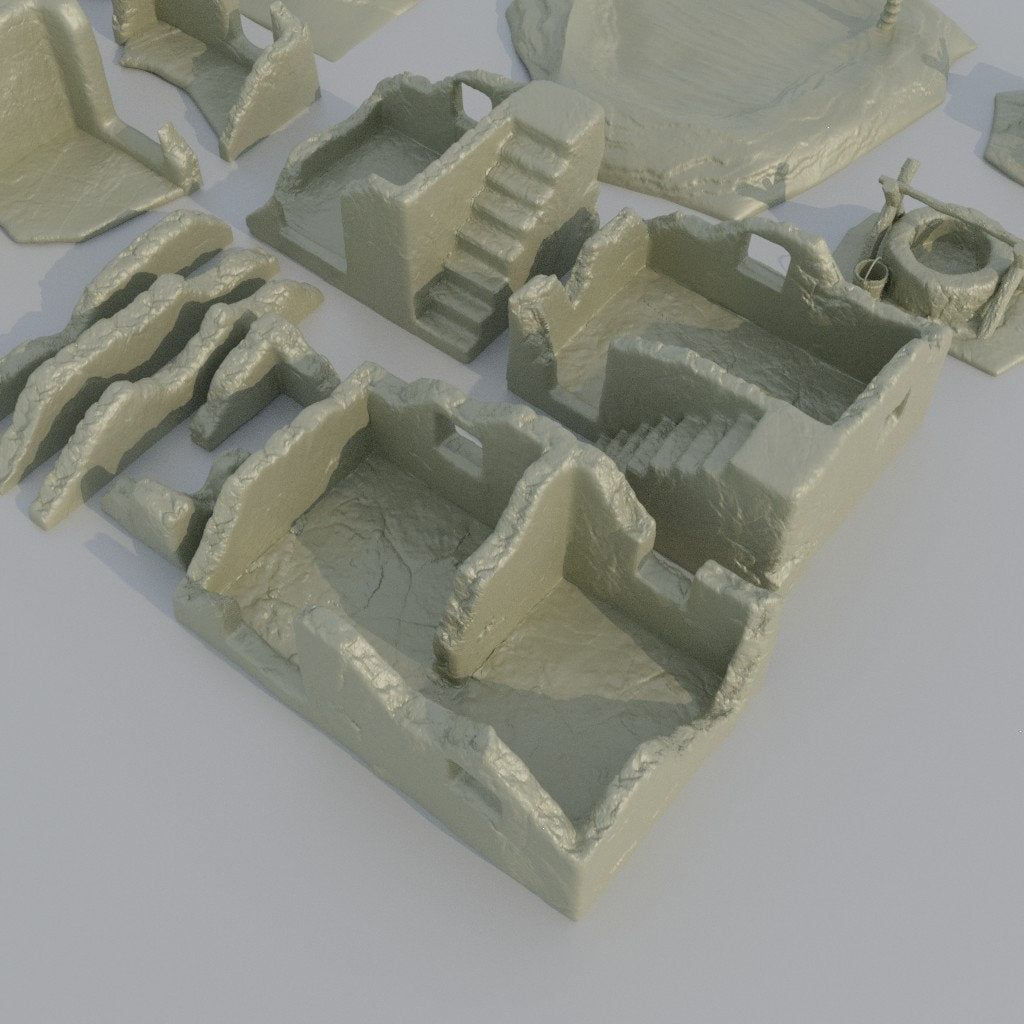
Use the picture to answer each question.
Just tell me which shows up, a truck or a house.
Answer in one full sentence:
Of the two, only a house appears.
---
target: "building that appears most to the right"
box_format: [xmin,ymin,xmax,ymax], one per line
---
[509,210,956,598]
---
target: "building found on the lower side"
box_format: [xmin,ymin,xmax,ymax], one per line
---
[179,362,784,918]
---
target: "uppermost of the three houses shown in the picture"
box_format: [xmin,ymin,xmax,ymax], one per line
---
[247,74,609,359]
